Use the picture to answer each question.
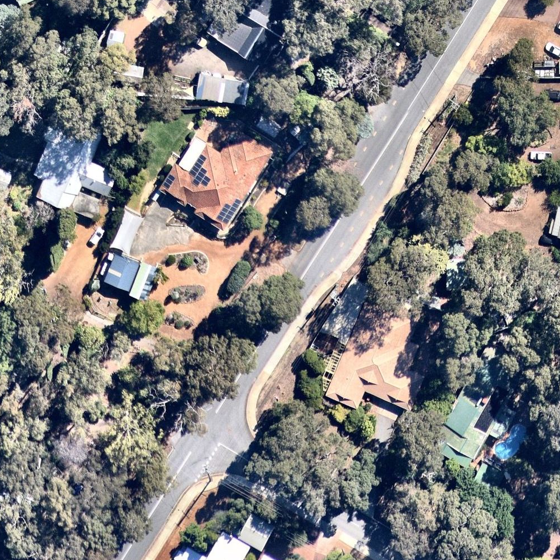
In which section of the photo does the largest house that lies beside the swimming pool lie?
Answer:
bottom right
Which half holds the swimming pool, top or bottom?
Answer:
bottom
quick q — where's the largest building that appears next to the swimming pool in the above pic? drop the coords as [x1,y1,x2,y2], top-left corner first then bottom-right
[441,387,501,462]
